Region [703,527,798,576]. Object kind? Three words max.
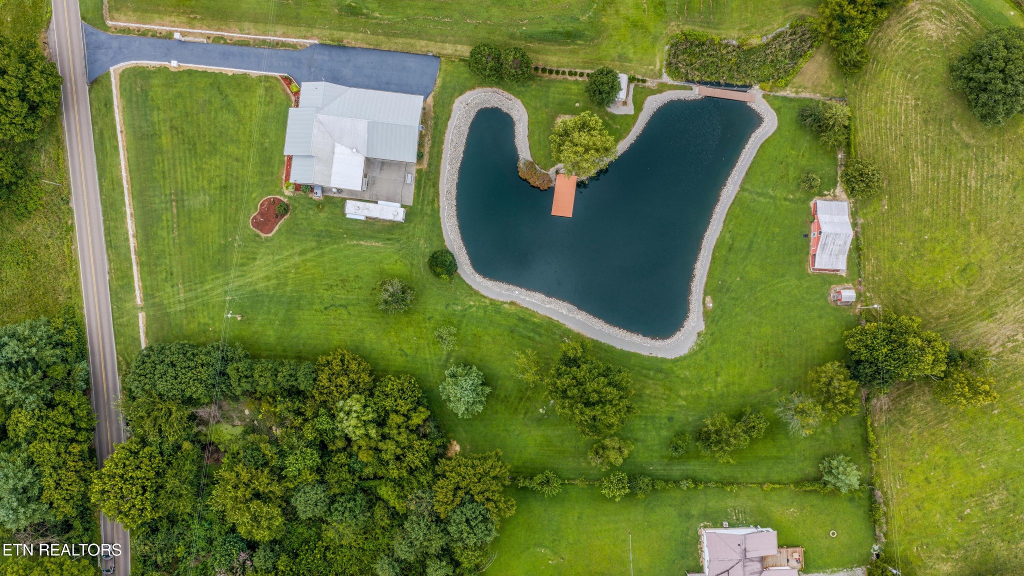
house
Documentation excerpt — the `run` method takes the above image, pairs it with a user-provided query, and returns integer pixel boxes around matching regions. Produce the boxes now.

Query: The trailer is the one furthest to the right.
[345,200,412,223]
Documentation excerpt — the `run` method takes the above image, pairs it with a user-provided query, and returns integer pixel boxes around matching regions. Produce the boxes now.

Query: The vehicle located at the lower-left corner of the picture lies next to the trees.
[97,543,113,575]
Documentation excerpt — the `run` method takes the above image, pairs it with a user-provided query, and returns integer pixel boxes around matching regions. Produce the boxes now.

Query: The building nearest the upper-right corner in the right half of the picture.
[811,200,854,272]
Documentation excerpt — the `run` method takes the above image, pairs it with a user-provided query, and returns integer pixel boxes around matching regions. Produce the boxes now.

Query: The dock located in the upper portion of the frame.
[551,174,577,217]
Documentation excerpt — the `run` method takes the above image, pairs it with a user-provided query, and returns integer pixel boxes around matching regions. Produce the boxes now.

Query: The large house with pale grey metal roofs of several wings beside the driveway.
[284,78,424,192]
